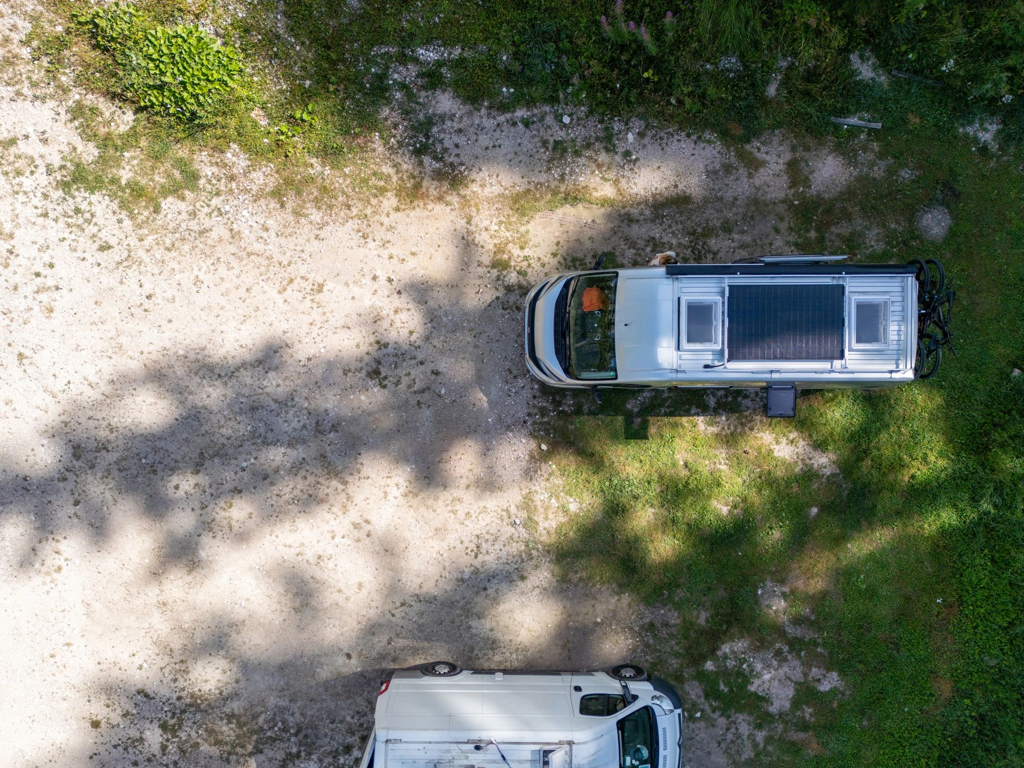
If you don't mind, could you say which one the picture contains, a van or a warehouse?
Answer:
van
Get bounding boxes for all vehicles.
[524,250,926,415]
[355,663,686,768]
